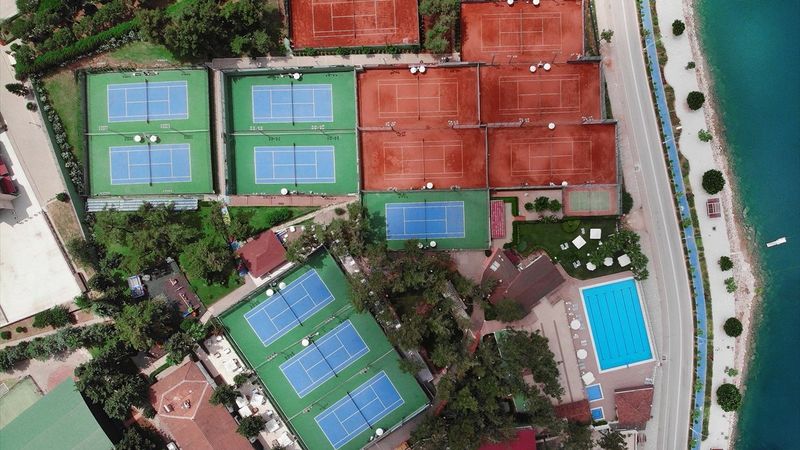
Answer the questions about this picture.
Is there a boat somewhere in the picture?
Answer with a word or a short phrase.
No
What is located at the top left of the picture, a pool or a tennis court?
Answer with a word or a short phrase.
tennis court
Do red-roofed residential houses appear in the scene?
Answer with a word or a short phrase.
Yes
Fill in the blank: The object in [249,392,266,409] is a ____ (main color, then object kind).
white umbrella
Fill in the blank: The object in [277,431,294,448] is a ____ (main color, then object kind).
white umbrella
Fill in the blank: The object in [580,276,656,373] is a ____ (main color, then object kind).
blue swimming pool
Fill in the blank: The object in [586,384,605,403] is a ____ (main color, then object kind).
blue swimming pool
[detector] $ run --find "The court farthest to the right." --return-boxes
[563,187,618,216]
